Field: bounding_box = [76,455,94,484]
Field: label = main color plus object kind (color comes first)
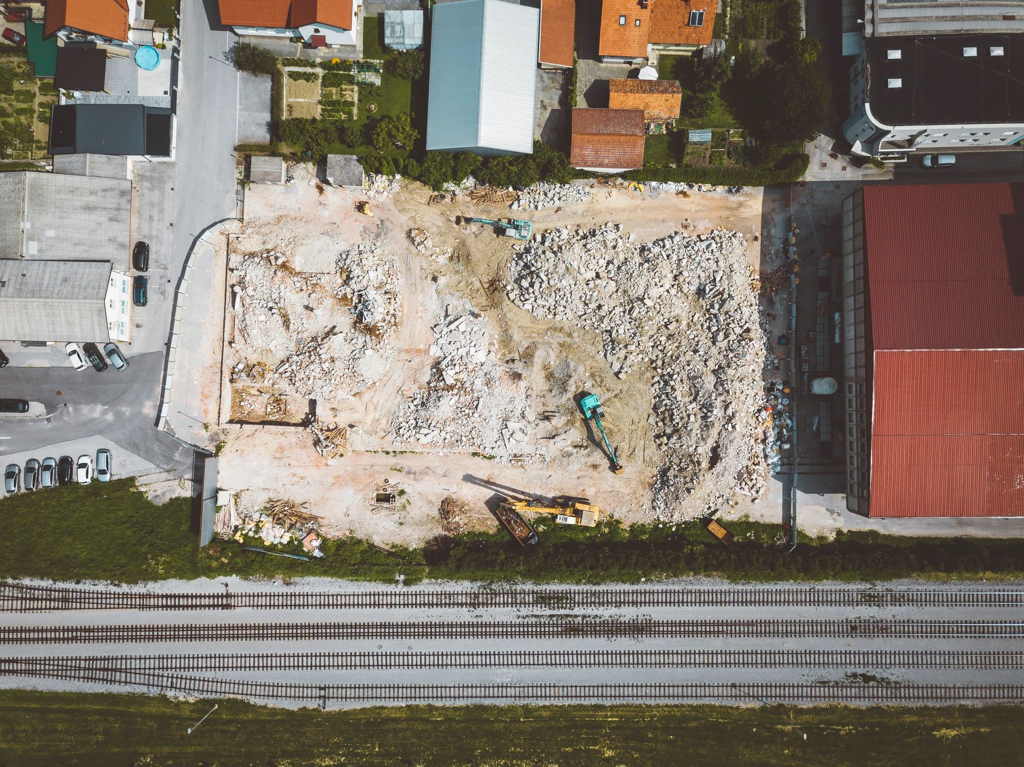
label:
white car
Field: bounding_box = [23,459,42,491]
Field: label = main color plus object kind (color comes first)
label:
gray car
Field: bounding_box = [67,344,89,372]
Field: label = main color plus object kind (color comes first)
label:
white car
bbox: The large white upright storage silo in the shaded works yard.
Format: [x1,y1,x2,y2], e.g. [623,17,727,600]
[807,376,837,394]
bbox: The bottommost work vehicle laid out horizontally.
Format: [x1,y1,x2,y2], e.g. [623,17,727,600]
[502,503,602,528]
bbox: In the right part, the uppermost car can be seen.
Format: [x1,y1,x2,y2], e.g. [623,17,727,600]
[921,153,956,169]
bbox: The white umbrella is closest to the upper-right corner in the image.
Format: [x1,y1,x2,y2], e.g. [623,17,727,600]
[638,65,657,80]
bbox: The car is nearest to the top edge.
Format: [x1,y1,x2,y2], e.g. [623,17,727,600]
[0,25,27,49]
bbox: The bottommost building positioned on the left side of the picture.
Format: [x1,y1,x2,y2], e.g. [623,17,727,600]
[0,261,133,346]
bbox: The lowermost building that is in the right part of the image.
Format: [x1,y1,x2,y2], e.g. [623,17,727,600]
[844,183,1024,519]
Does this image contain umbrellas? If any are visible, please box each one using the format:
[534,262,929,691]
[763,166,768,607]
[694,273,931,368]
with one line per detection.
[74,92,86,101]
[638,65,657,80]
